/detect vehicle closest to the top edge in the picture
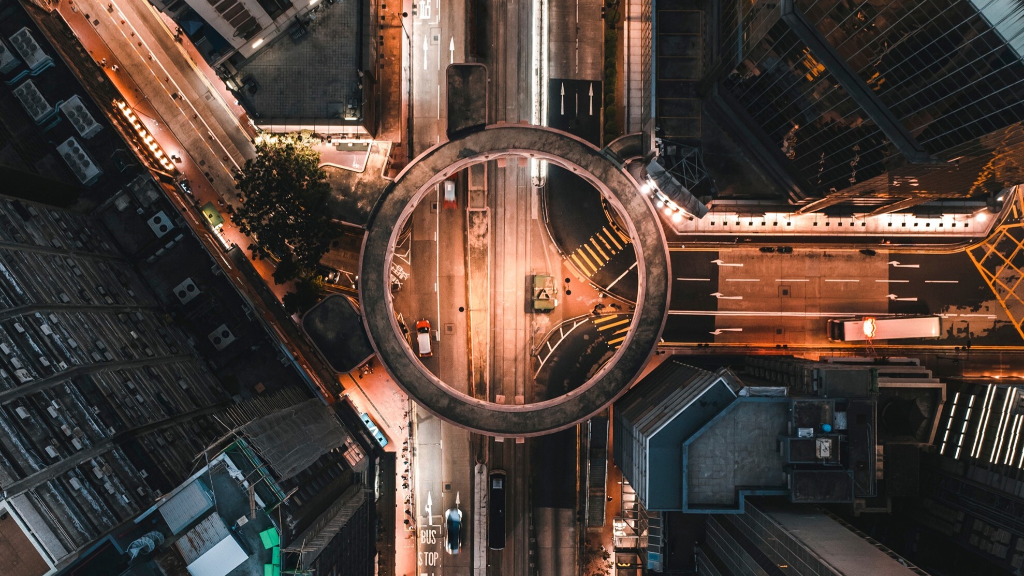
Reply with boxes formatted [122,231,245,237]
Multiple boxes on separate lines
[442,181,457,211]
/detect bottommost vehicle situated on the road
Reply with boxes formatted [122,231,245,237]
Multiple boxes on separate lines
[444,510,462,553]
